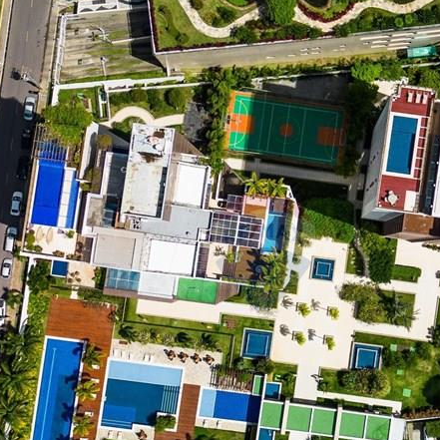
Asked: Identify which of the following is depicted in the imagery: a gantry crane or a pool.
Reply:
pool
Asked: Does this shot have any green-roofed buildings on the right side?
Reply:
Yes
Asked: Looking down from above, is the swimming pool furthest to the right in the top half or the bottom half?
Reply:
top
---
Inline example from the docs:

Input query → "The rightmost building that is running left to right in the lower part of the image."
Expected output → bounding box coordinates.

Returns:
[258,392,406,440]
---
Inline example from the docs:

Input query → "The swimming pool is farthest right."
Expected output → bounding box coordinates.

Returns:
[383,111,422,179]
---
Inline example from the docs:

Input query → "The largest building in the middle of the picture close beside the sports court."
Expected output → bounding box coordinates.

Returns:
[80,123,300,305]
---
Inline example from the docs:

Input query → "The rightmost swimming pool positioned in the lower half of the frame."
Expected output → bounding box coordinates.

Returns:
[350,341,384,373]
